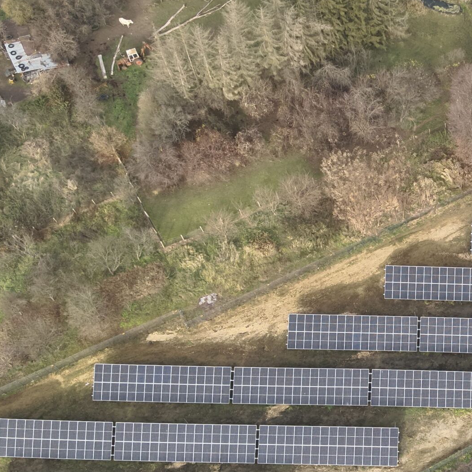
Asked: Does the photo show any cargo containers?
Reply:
No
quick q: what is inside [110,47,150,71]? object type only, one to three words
work vehicle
